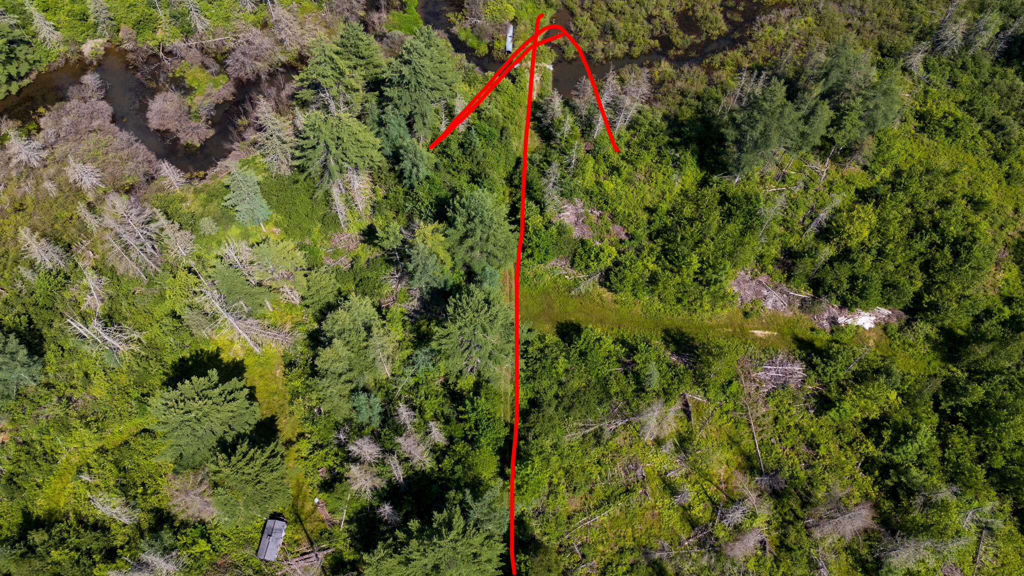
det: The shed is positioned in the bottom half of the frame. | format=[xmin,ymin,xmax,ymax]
[256,519,288,560]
